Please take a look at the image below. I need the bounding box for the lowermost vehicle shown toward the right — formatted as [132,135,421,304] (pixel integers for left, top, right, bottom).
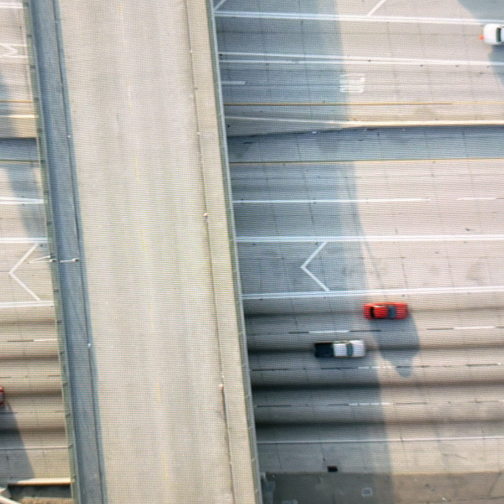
[313,339,366,361]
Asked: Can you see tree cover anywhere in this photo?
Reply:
No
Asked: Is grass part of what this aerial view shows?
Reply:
No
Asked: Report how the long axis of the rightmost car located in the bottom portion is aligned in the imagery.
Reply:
from side to side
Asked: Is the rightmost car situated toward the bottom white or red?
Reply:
red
